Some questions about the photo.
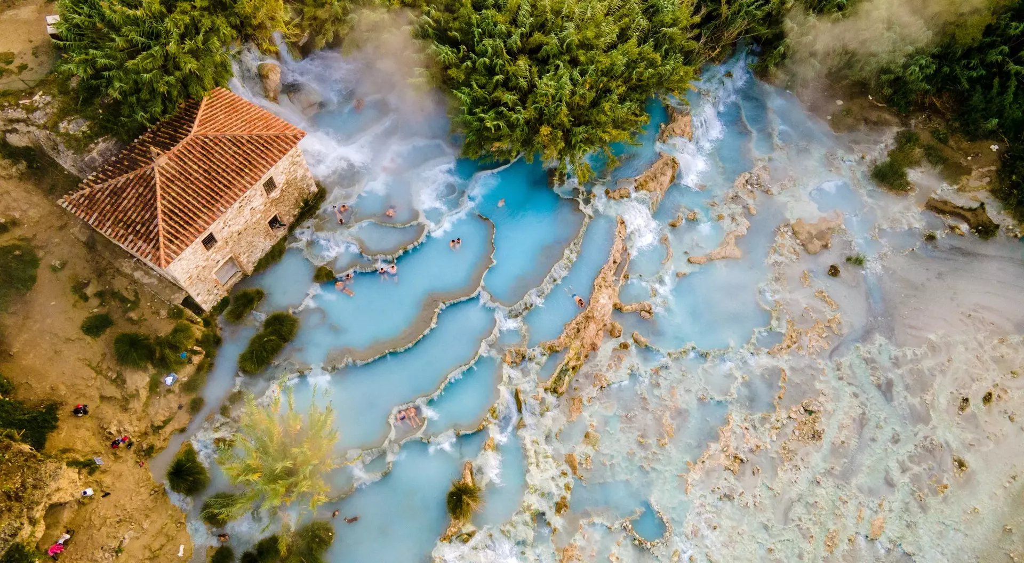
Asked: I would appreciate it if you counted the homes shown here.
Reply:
one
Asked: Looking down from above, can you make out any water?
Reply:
Yes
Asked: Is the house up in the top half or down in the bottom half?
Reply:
top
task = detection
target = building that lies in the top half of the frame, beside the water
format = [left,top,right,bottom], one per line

[55,84,318,308]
